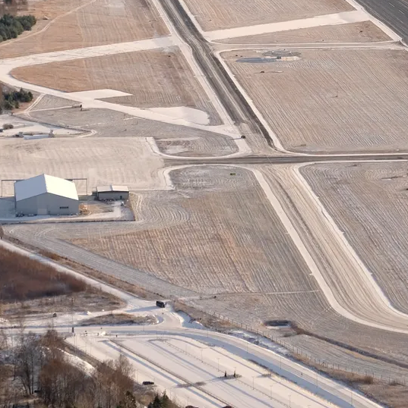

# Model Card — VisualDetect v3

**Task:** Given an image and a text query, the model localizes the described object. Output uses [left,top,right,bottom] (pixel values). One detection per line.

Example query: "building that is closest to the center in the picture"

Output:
[97,185,129,199]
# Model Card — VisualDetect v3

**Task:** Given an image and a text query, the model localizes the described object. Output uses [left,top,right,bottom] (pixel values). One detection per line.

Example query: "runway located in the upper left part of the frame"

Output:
[1,34,178,65]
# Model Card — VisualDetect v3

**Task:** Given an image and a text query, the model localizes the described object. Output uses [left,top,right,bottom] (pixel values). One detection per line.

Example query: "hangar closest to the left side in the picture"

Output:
[0,174,94,216]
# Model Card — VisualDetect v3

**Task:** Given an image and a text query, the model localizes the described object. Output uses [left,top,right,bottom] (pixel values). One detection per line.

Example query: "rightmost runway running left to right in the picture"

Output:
[200,11,371,42]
